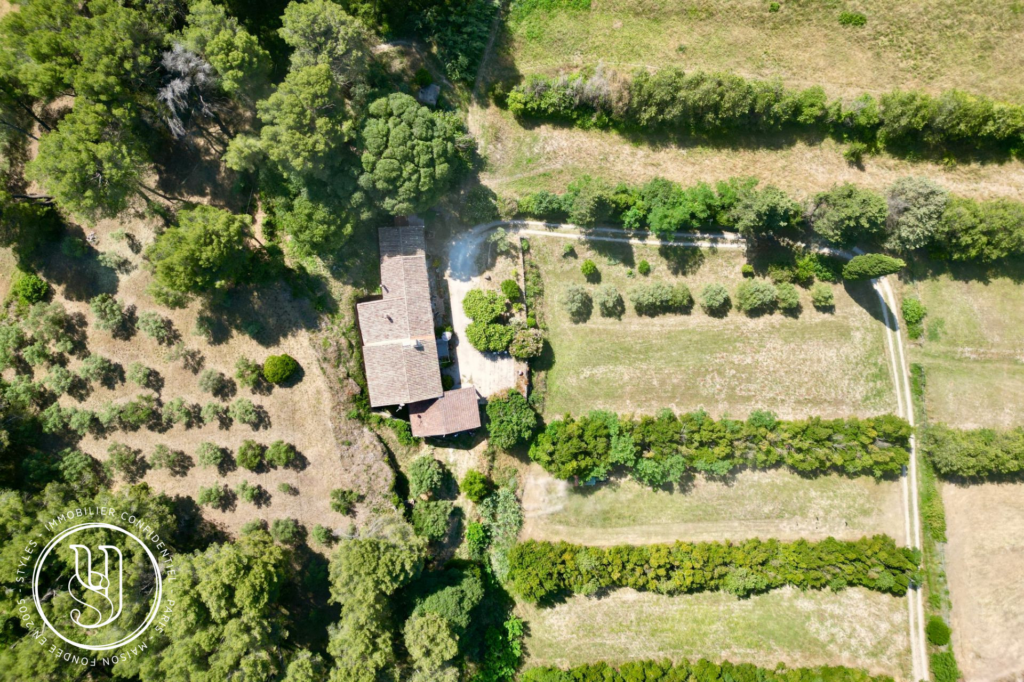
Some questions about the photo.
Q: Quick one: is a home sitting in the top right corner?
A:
No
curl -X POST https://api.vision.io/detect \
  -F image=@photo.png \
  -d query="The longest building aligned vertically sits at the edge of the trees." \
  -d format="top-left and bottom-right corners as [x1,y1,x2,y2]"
[356,226,444,409]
